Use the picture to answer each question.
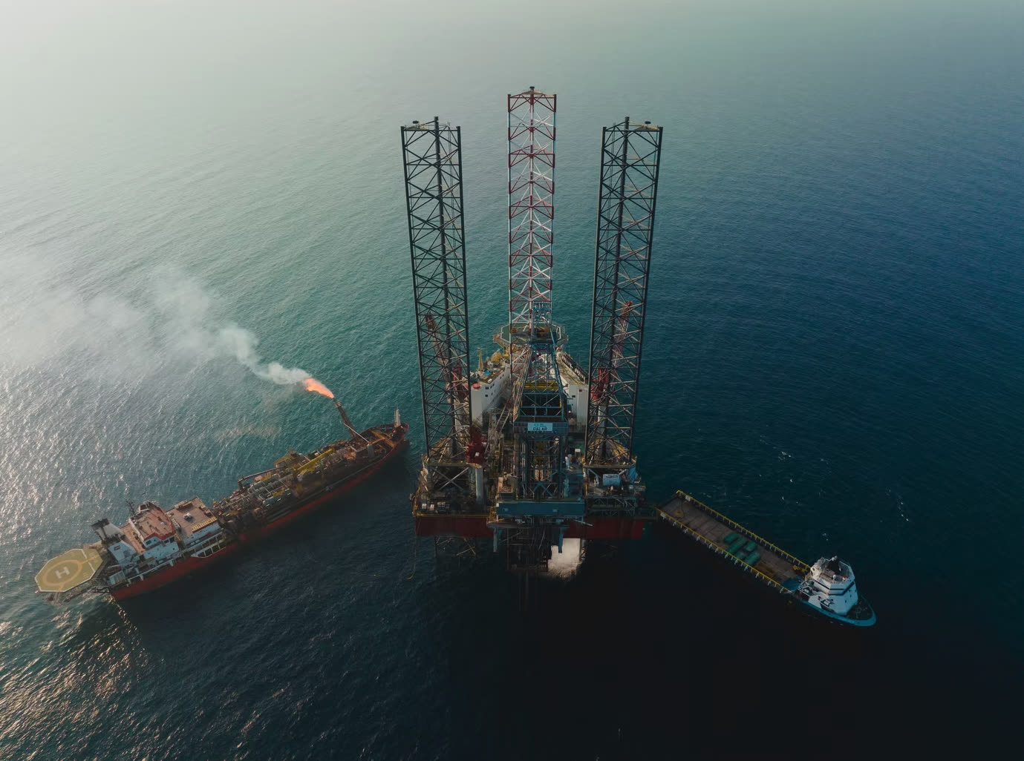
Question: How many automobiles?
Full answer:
The photo contains no automobiles.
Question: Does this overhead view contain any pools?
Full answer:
No, no pool is visible in the view.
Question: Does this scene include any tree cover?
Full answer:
No, tree cover can't be seen anywhere here.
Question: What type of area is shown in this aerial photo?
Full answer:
It's a port.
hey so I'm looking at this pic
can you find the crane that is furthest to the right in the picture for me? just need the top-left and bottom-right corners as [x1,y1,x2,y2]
[592,295,632,437]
